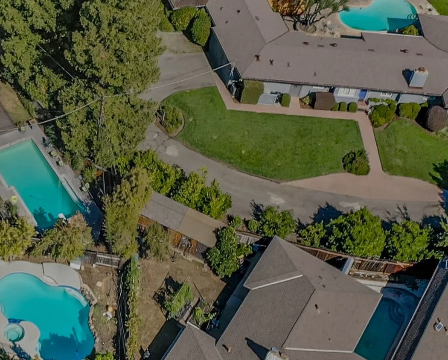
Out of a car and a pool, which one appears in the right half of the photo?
pool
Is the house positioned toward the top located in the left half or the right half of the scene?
right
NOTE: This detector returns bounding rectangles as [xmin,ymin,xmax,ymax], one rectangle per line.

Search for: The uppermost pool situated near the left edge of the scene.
[0,138,83,235]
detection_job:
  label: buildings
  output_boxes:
[164,236,383,360]
[141,194,226,262]
[200,0,448,124]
